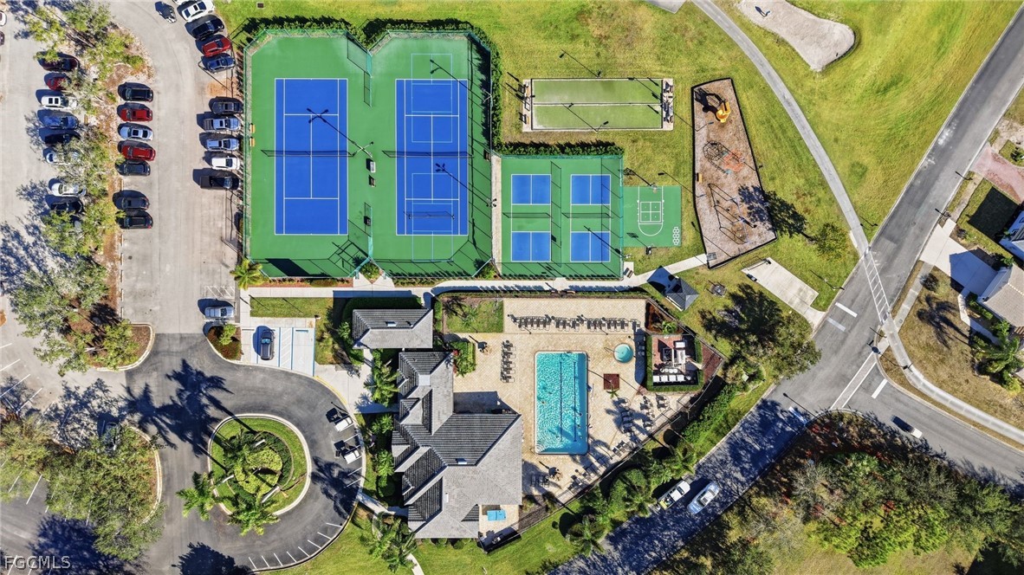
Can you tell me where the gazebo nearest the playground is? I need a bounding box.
[660,276,701,312]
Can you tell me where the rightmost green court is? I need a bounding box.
[623,186,682,247]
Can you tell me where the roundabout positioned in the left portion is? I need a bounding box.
[207,413,312,526]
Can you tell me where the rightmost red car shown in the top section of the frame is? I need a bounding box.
[200,37,234,56]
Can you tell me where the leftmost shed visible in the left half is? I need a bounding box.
[352,309,433,349]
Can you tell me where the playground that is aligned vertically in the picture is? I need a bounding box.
[691,77,777,268]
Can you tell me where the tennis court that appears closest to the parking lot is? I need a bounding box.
[251,37,371,277]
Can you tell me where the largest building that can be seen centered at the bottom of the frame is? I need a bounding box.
[392,352,522,539]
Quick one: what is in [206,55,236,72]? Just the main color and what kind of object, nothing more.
blue car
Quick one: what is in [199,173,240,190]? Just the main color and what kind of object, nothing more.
black vehicle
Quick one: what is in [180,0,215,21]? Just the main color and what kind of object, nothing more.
white car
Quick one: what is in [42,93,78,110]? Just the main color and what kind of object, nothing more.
white car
